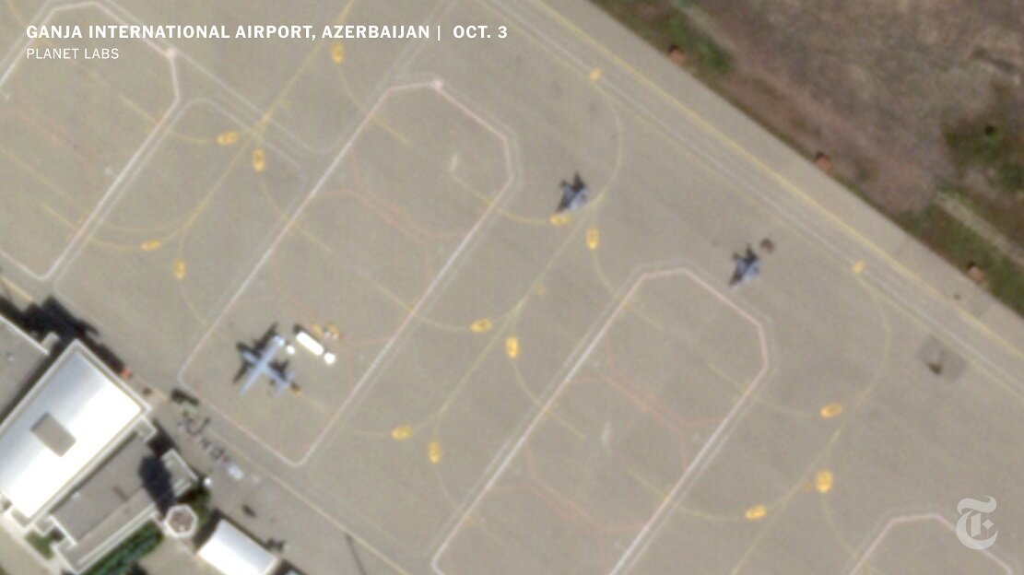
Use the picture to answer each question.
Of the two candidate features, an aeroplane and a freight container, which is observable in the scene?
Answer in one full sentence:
There is an aeroplane in the scene.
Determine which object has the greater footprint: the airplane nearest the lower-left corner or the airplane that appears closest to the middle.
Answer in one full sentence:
Of the two, the airplane nearest the lower-left corner is bigger, while the airplane that appears closest to the middle is smaller.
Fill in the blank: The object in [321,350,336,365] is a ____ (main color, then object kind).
white vehicle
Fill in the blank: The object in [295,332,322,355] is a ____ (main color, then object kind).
white truck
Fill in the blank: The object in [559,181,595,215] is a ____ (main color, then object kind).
gray airplane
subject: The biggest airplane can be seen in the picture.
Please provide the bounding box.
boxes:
[240,338,294,397]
